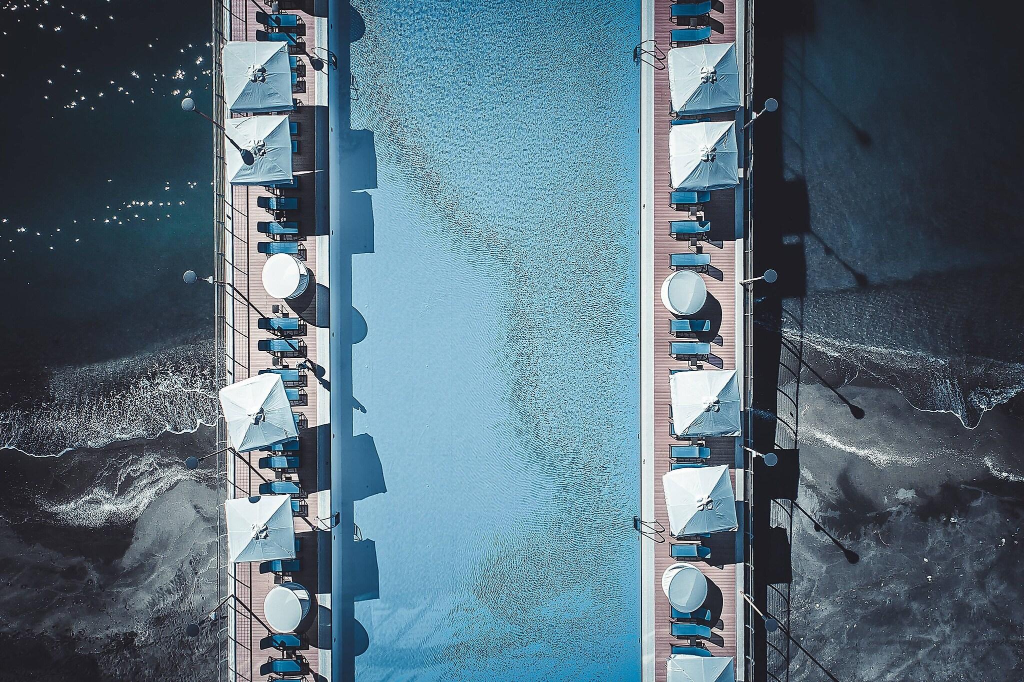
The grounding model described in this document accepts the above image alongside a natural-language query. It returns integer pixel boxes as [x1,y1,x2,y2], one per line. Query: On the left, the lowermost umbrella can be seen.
[225,490,299,564]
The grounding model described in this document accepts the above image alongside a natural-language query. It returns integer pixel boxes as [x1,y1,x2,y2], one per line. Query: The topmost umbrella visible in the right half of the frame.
[666,40,742,116]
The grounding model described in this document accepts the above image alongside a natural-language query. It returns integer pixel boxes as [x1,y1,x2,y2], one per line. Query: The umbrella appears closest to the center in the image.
[669,367,742,439]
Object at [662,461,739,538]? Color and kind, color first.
white umbrella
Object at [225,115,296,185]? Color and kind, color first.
white umbrella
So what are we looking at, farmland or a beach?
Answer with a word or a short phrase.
beach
